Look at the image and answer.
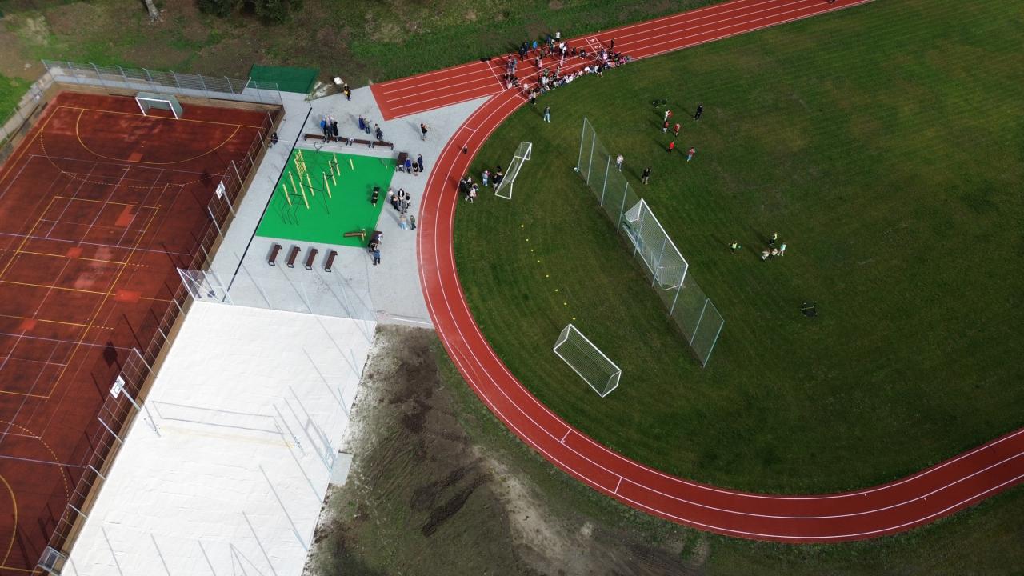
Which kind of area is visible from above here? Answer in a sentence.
The area seen from above is a sports ground.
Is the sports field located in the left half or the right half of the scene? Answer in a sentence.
The sports field is on the right side of the image.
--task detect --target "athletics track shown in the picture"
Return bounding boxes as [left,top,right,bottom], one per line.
[370,0,1024,545]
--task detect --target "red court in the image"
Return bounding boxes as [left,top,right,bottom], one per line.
[0,91,278,576]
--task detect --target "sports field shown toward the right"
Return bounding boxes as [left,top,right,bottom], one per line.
[453,0,1024,496]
